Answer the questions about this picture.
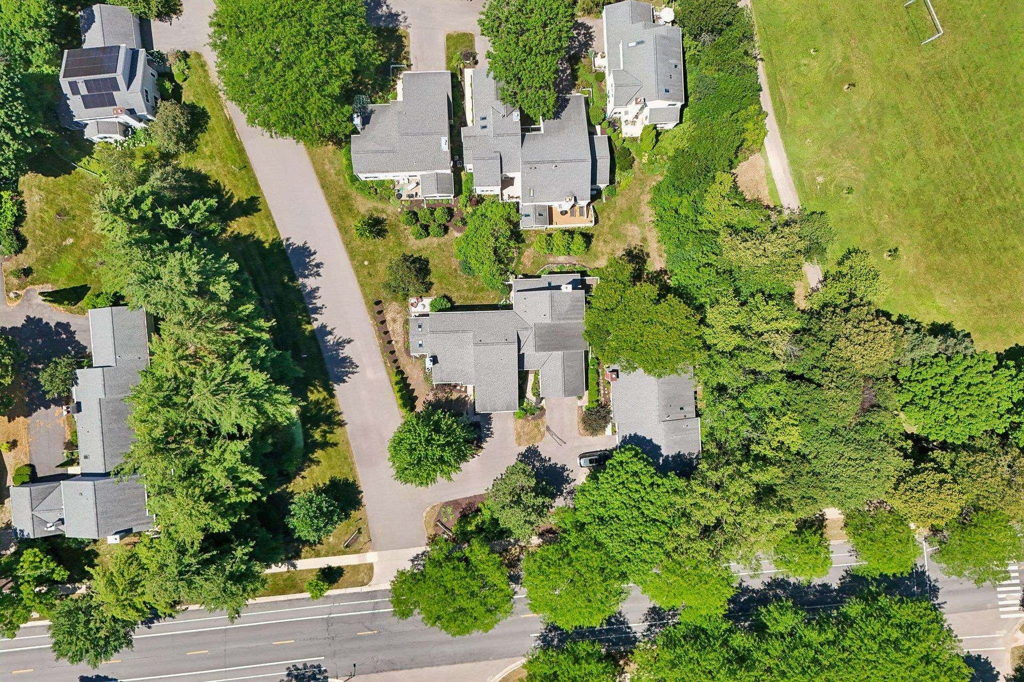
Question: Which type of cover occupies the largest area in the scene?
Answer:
trees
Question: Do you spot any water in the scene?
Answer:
No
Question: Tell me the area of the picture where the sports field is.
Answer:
top right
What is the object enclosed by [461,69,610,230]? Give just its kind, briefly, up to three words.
house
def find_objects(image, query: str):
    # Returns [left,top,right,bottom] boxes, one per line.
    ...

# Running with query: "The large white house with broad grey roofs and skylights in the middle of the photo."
[409,273,586,414]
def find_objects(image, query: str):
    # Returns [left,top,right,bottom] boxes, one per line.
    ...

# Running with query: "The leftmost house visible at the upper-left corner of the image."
[59,3,168,140]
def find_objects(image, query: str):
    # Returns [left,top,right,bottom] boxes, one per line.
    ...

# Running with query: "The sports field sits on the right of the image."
[751,0,1024,345]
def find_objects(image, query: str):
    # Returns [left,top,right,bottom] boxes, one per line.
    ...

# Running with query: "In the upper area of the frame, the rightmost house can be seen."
[602,0,684,127]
